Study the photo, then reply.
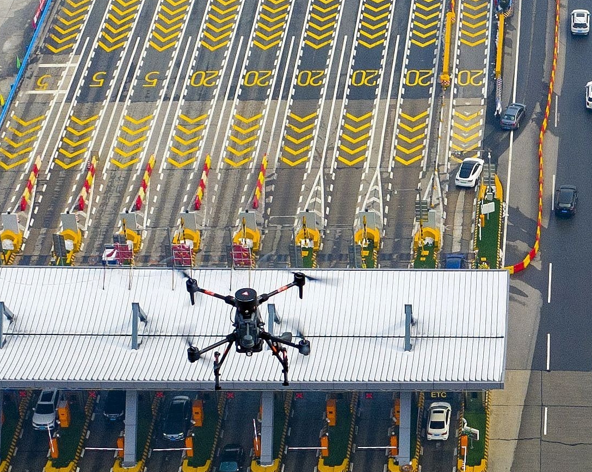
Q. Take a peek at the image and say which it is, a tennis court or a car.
car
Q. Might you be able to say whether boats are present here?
No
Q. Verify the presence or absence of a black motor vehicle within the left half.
Yes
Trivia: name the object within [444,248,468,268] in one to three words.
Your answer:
car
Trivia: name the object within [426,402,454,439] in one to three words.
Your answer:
car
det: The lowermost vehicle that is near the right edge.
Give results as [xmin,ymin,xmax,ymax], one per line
[555,188,578,216]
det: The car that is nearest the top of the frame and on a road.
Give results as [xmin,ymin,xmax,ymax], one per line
[570,12,591,35]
